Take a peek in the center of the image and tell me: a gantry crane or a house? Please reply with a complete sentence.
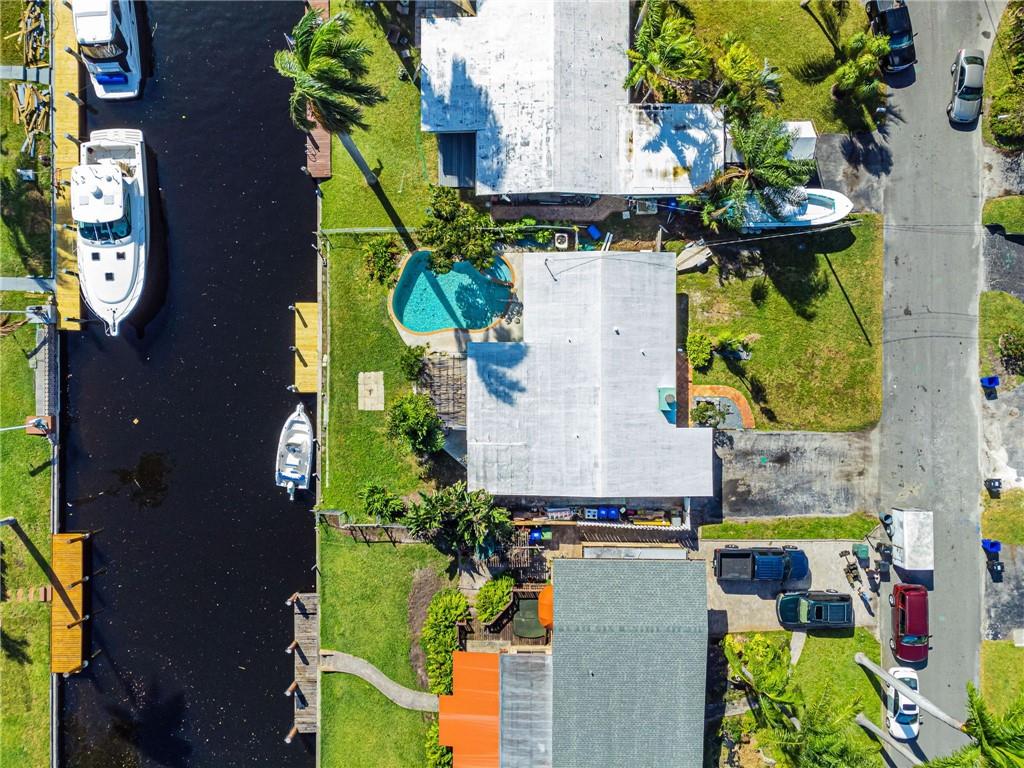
What appears in the center of the image is a house.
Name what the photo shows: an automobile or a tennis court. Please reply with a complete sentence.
Looking from above, you can make out an automobile.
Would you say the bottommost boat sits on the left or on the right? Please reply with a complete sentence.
The bottommost boat is on the left side of the image.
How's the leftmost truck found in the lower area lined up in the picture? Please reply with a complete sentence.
What the image shows is the leftmost truck found in the lower area lying from left to right.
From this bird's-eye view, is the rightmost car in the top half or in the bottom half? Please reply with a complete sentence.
The rightmost car is in the top half of the image.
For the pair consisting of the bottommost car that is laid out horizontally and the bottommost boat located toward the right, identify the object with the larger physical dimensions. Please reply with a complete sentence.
Compared with the boat, the car is the larger one.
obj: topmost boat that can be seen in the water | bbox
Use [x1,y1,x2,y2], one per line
[64,0,145,104]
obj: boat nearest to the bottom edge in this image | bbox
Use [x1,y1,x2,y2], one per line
[277,402,315,501]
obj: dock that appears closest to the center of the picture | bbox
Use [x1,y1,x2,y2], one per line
[295,303,317,392]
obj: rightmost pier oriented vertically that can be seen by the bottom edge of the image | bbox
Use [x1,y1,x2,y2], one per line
[293,592,318,733]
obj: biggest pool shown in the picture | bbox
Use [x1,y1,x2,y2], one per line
[388,248,518,335]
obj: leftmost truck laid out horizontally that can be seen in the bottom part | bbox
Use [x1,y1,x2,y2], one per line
[708,547,809,587]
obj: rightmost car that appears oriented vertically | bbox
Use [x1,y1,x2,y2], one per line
[943,47,986,127]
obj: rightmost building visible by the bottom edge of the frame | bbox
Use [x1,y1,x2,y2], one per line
[551,541,709,768]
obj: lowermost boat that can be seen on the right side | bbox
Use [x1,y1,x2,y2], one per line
[676,232,720,277]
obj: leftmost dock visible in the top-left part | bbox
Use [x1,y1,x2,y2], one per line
[55,0,88,330]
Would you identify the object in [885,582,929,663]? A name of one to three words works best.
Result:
car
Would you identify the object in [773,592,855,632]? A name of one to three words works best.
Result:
car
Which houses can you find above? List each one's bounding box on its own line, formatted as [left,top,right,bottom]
[551,541,709,768]
[467,251,713,498]
[421,0,725,205]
